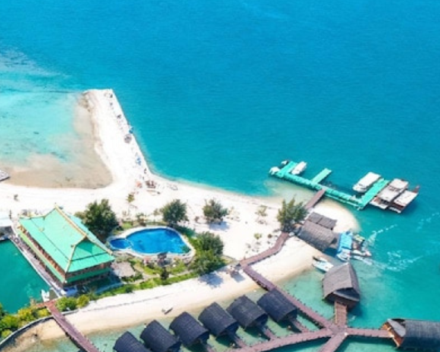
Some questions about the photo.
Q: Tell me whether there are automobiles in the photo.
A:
No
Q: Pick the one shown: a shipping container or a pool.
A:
pool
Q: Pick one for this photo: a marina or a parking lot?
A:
marina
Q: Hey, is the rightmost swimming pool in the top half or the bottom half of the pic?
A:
bottom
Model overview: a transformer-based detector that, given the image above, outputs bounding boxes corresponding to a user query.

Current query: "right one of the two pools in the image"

[125,225,195,256]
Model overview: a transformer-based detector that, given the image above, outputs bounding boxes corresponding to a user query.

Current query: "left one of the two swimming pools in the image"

[108,236,133,251]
